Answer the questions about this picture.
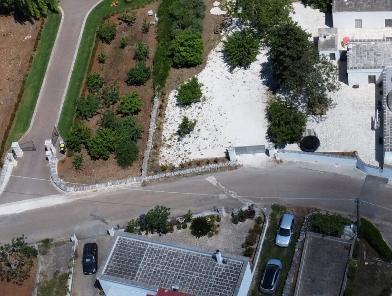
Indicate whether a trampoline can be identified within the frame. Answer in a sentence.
Yes, a trampoline is visible in the scene.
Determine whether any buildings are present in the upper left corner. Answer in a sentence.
No, in the upper left corner there is no building.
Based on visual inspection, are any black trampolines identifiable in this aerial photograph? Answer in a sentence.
Yes, there's a black trampoline here.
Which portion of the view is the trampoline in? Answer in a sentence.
The trampoline is in the right part of the image.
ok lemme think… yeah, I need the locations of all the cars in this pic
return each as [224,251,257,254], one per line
[260,260,283,295]
[81,241,100,276]
[276,213,296,248]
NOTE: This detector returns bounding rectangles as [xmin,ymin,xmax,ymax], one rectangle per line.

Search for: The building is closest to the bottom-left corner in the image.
[99,233,248,296]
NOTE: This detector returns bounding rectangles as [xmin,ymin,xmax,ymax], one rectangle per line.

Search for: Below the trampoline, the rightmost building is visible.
[292,234,350,296]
